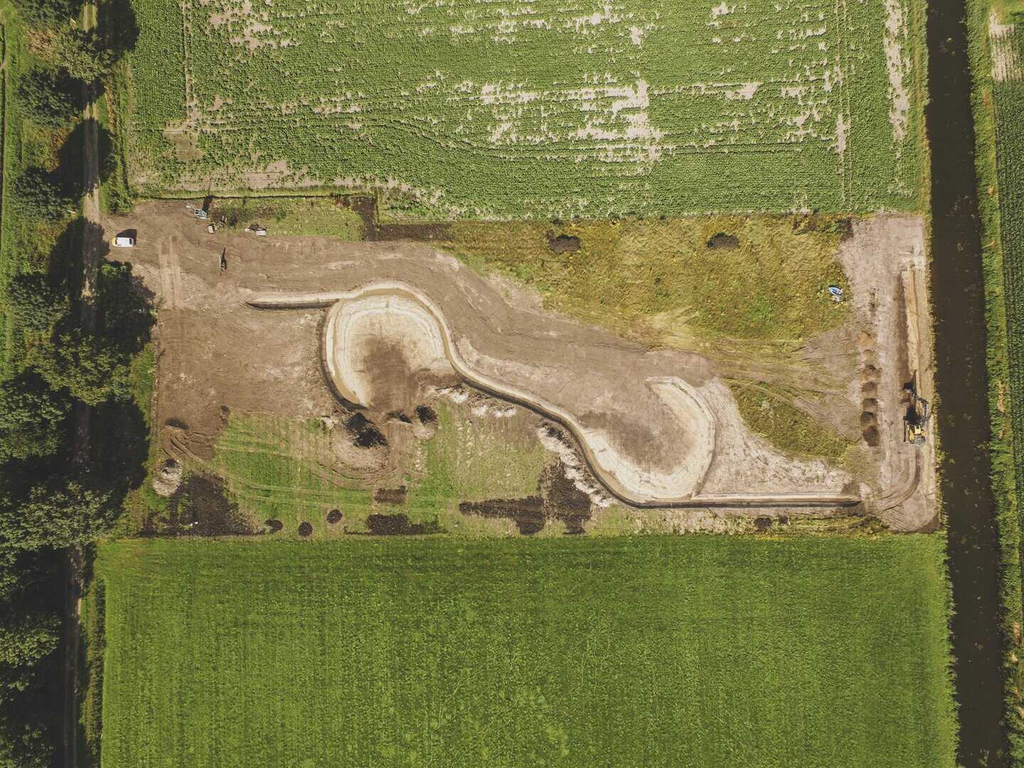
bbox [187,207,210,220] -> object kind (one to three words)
vehicle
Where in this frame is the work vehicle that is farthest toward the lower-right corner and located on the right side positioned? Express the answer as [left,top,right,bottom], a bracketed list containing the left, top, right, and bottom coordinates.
[903,388,932,443]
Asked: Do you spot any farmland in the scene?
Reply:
Yes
